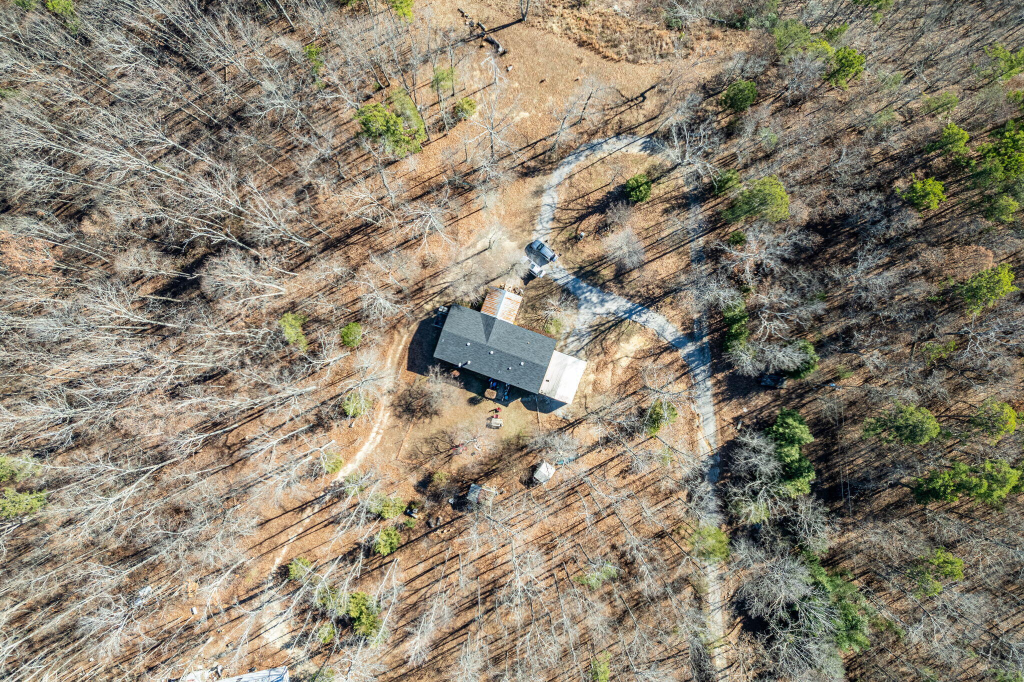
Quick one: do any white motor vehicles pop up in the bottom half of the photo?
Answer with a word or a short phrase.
No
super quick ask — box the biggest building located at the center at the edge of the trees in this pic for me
[434,286,557,393]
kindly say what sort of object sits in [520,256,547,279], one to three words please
car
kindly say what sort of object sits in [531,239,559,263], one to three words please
car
